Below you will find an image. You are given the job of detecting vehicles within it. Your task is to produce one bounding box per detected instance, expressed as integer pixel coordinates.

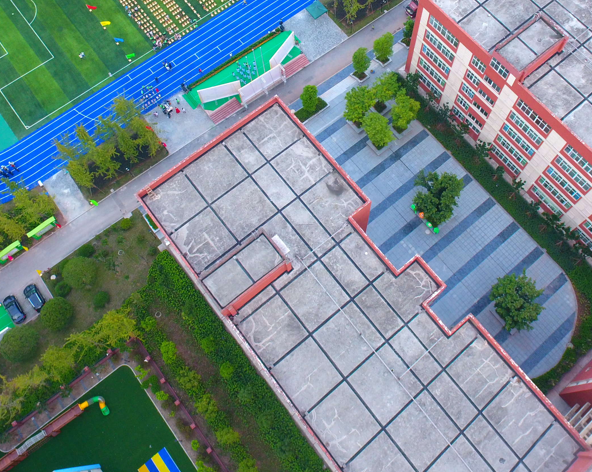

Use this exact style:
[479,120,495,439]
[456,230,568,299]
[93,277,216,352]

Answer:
[400,0,421,15]
[24,281,47,315]
[4,293,28,326]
